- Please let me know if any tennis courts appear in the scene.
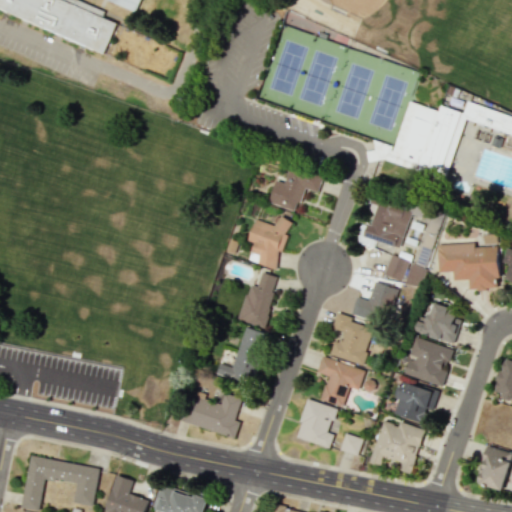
Yes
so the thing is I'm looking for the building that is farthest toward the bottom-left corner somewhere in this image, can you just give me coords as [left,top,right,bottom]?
[20,455,98,512]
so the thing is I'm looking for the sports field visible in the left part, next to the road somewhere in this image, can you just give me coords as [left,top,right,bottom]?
[0,67,262,432]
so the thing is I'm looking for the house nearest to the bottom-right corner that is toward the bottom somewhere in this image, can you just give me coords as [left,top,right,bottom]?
[478,447,511,491]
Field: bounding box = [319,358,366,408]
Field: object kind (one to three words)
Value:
house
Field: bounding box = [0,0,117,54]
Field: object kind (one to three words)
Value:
building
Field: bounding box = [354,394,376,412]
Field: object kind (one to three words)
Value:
swimming pool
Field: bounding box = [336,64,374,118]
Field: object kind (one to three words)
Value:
tennis court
